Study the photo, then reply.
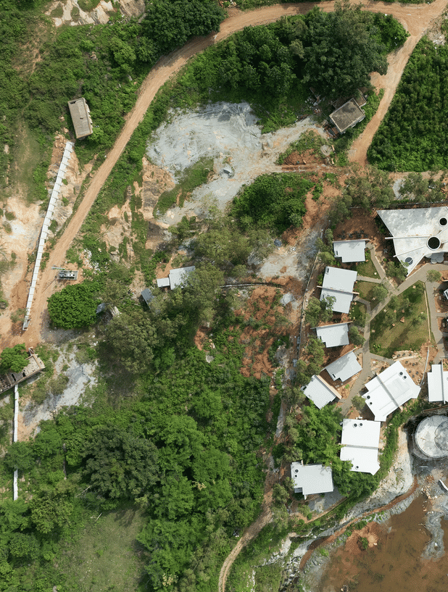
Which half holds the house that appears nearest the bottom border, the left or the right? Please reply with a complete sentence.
You can find the house that appears nearest the bottom border on the right side of the picture.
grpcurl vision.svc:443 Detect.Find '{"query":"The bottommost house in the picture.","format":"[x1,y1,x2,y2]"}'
[291,457,334,499]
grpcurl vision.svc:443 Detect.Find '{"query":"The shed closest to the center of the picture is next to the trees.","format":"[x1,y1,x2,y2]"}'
[157,266,196,290]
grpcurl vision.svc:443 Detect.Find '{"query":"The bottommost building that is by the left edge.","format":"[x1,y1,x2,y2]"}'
[0,346,51,393]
